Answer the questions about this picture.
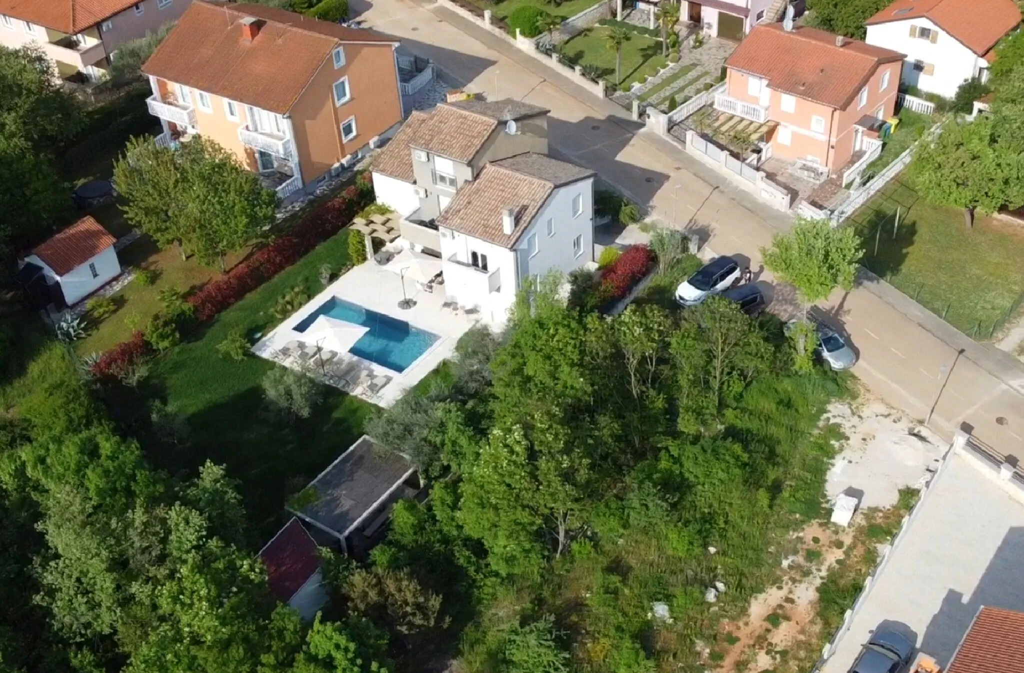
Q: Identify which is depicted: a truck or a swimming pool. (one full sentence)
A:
It is a swimming pool that can be seen here.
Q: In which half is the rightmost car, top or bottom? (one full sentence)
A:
You can find the rightmost car in the bottom half.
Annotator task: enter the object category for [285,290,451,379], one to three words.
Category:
swimming pool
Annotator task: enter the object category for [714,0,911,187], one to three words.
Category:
house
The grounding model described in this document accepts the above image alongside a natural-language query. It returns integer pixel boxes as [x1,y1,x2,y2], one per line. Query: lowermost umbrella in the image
[299,312,372,380]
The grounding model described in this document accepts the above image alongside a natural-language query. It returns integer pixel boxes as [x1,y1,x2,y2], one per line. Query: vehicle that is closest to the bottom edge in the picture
[848,623,916,673]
